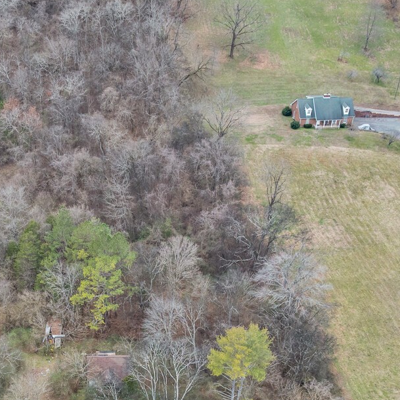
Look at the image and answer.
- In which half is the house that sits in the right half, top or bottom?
top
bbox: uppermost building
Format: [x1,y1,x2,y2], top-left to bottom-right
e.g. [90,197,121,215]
[290,91,356,130]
